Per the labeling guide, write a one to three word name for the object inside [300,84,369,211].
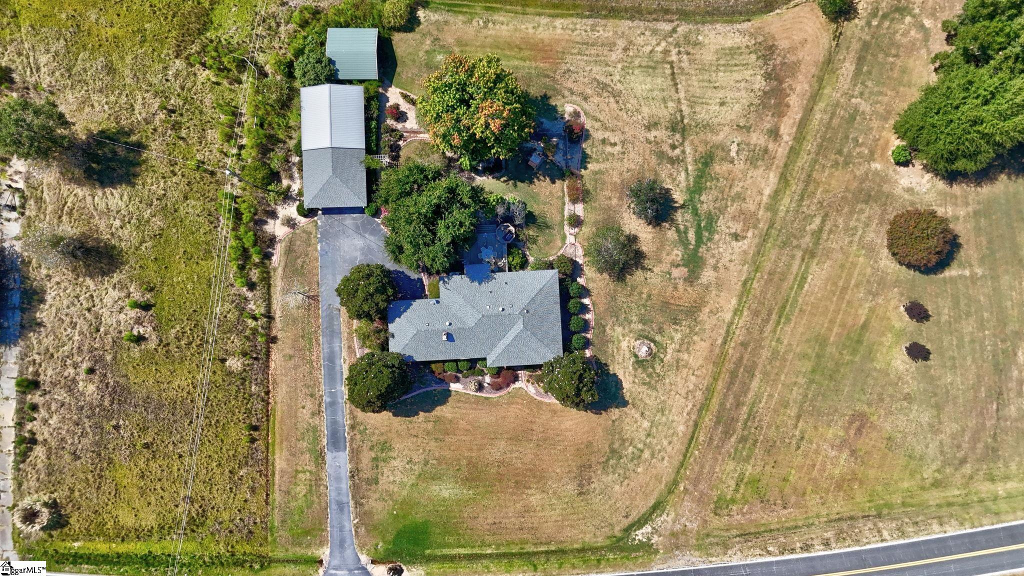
building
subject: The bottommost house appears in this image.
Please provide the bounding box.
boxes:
[387,263,563,368]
